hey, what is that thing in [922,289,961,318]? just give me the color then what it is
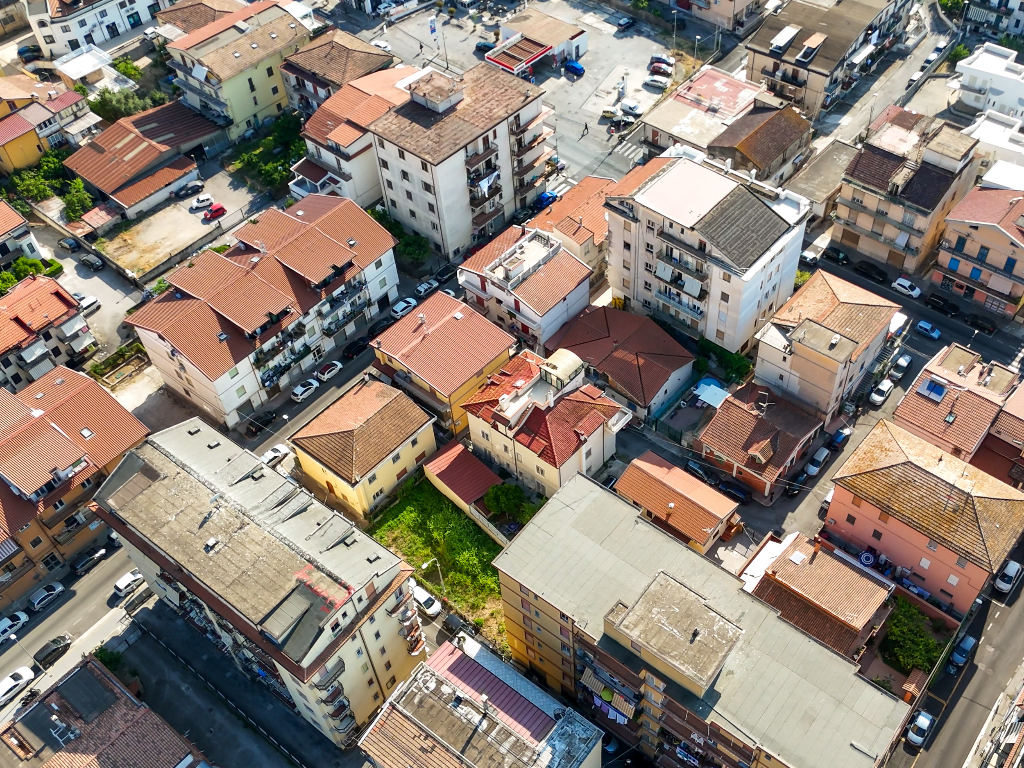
black car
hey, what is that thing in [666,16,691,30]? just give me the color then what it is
black car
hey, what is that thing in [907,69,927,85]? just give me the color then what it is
white car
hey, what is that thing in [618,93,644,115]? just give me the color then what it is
white vehicle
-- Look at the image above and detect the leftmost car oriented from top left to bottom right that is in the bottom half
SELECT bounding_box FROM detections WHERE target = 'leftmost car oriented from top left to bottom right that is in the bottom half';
[274,464,306,490]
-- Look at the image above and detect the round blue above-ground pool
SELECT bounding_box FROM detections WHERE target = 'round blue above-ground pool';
[689,370,729,399]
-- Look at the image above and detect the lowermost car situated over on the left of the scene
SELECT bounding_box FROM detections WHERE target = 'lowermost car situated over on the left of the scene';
[0,665,37,706]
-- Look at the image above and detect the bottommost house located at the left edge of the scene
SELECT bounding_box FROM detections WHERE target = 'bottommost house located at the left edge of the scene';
[0,643,210,768]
